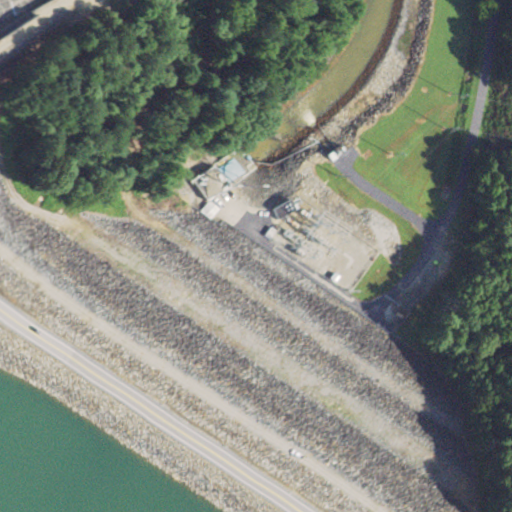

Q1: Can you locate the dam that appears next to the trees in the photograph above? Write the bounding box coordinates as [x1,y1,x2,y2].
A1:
[0,172,482,512]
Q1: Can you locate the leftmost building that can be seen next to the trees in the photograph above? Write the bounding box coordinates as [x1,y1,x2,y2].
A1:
[188,153,256,220]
